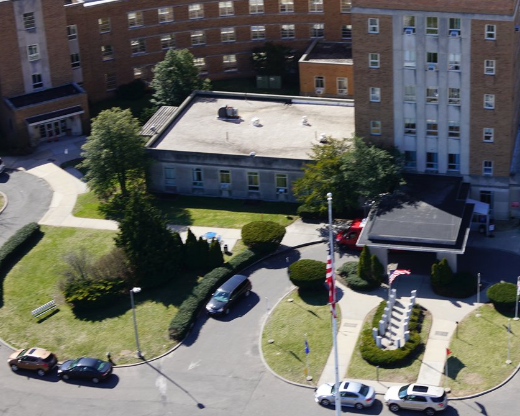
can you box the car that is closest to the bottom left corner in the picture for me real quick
[2,345,63,378]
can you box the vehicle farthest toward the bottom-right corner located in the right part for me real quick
[387,380,448,415]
